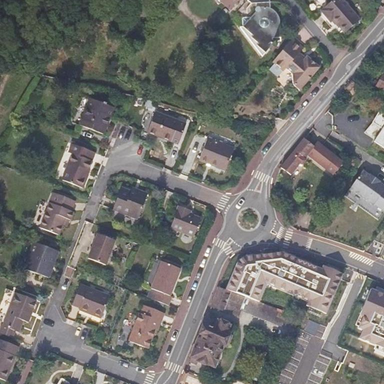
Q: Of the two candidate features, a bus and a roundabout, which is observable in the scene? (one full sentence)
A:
There is a roundabout in the scene.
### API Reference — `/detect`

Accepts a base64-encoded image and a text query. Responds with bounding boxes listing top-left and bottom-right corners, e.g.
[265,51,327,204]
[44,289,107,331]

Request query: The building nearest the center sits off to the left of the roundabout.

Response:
[170,203,204,236]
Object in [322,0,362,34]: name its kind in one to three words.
house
